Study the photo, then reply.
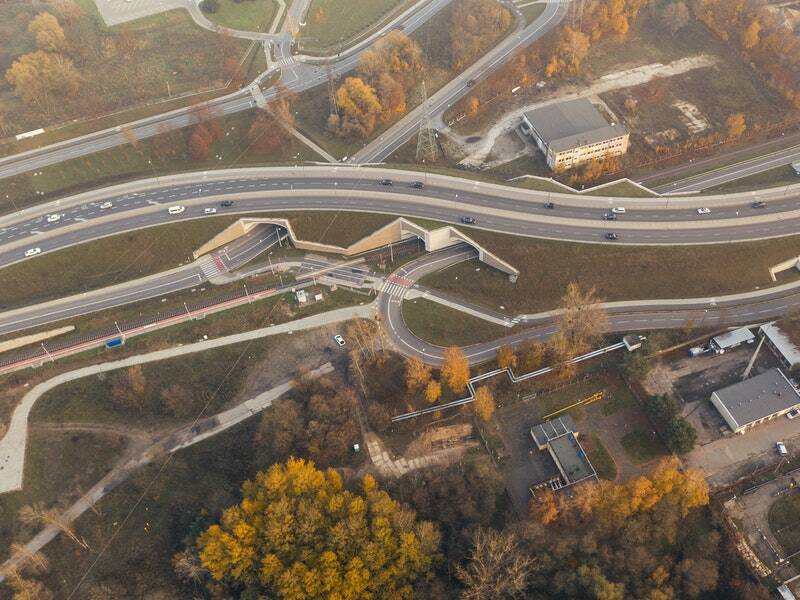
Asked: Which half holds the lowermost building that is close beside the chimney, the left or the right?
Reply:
right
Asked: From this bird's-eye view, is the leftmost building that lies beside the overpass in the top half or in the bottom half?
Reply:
top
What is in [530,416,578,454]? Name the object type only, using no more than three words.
building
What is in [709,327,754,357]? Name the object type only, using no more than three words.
shed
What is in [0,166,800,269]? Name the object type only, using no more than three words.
overpass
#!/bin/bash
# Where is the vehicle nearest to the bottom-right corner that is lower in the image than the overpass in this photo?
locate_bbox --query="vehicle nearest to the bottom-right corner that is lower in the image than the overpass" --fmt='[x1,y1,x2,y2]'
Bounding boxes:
[774,438,790,460]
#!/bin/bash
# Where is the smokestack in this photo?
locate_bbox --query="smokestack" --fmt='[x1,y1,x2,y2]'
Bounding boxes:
[740,334,766,380]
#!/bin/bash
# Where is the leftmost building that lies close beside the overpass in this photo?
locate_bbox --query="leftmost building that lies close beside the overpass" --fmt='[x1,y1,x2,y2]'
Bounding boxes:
[523,96,630,170]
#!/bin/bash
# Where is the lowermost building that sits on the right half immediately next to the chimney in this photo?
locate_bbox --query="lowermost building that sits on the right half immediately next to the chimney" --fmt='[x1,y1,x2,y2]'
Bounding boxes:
[706,373,800,442]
